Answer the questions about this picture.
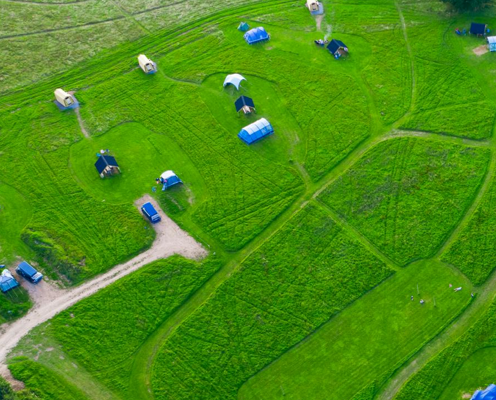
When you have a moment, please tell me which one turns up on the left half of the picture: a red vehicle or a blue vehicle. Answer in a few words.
blue vehicle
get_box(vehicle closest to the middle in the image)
[141,199,162,225]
